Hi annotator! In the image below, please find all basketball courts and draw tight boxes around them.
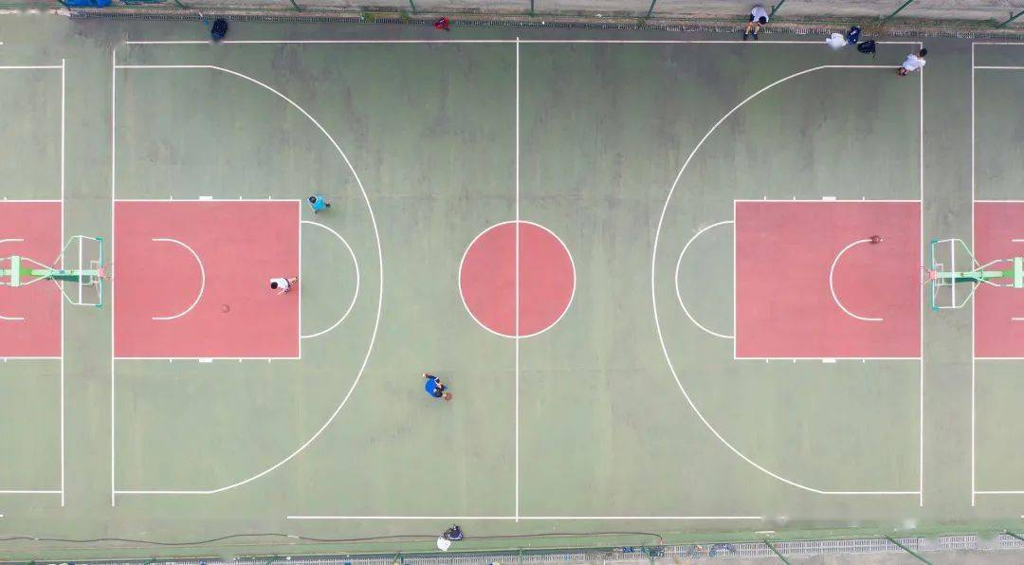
[113,37,923,522]
[0,42,63,517]
[972,43,1024,517]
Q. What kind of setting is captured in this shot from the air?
sports ground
